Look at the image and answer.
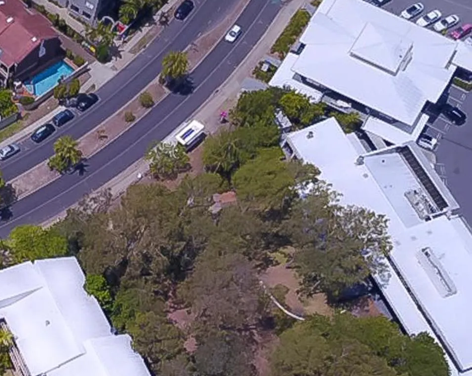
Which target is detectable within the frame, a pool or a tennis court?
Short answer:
pool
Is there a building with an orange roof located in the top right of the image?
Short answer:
No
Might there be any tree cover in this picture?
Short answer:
Yes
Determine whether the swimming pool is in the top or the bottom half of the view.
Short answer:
top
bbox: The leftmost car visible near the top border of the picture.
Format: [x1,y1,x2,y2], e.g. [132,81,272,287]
[174,1,193,20]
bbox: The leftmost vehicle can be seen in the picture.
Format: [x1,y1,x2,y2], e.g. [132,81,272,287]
[0,143,22,161]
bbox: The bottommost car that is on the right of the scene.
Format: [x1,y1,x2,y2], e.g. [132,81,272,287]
[415,133,440,152]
